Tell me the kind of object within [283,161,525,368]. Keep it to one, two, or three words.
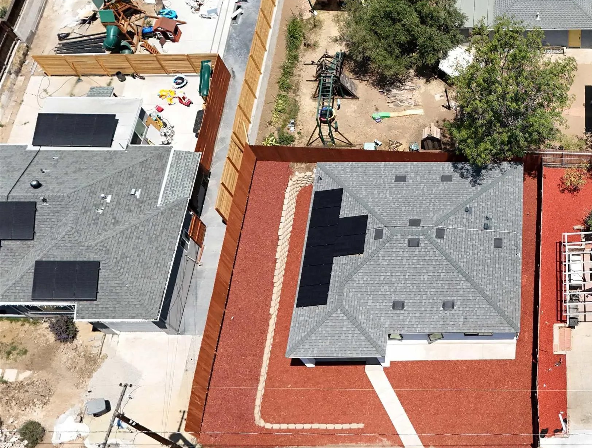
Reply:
house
